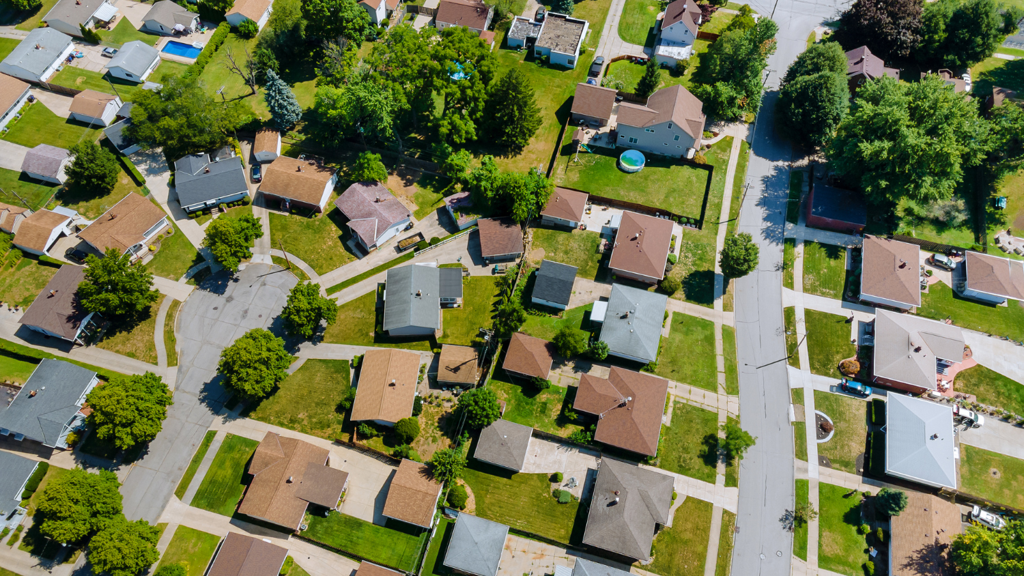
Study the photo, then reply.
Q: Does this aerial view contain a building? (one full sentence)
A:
Yes, a building appears in the view.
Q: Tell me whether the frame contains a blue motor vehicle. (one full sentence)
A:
Yes, the photo shows a blue motor vehicle.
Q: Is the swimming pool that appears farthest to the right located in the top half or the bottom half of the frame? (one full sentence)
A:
You can find the swimming pool that appears farthest to the right in the top half.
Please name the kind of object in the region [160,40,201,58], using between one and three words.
swimming pool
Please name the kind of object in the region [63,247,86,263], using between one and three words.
car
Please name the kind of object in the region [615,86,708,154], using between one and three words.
house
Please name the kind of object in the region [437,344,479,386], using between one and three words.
building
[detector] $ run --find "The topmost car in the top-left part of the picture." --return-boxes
[97,44,119,56]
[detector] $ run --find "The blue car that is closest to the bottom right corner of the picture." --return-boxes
[843,376,873,395]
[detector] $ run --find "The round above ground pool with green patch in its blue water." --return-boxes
[618,149,644,173]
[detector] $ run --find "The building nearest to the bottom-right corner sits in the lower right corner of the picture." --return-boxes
[886,488,961,576]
